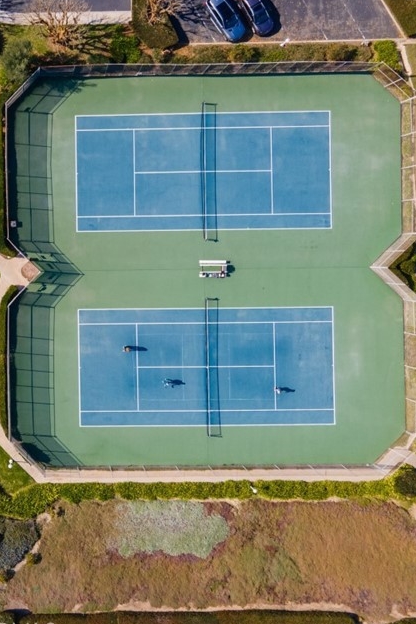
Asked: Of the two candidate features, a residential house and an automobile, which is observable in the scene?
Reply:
automobile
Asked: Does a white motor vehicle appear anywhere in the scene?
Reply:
No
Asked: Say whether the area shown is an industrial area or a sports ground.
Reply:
sports ground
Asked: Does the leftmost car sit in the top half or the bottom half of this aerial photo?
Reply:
top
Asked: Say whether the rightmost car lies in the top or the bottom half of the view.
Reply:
top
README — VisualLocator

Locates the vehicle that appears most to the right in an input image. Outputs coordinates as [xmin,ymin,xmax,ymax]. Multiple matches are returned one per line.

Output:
[239,0,272,39]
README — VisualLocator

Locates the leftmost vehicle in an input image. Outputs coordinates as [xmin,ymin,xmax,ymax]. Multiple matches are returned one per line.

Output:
[206,0,244,44]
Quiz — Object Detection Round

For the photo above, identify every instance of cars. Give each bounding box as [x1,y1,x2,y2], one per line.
[239,0,272,39]
[206,0,244,44]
